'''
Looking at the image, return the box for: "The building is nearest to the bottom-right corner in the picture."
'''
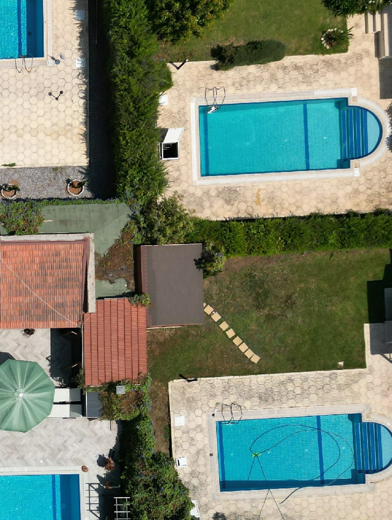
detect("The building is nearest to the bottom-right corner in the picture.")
[355,291,392,349]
